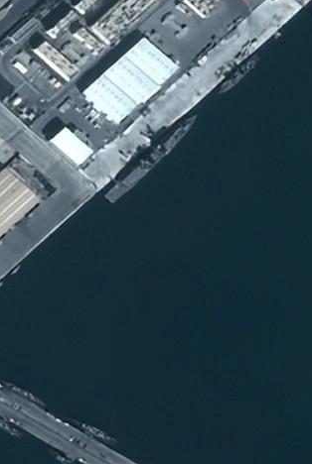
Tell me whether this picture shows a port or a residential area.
port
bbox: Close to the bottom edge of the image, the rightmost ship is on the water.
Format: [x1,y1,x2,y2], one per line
[70,416,119,445]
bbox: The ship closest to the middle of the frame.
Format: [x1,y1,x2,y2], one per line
[106,114,199,204]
